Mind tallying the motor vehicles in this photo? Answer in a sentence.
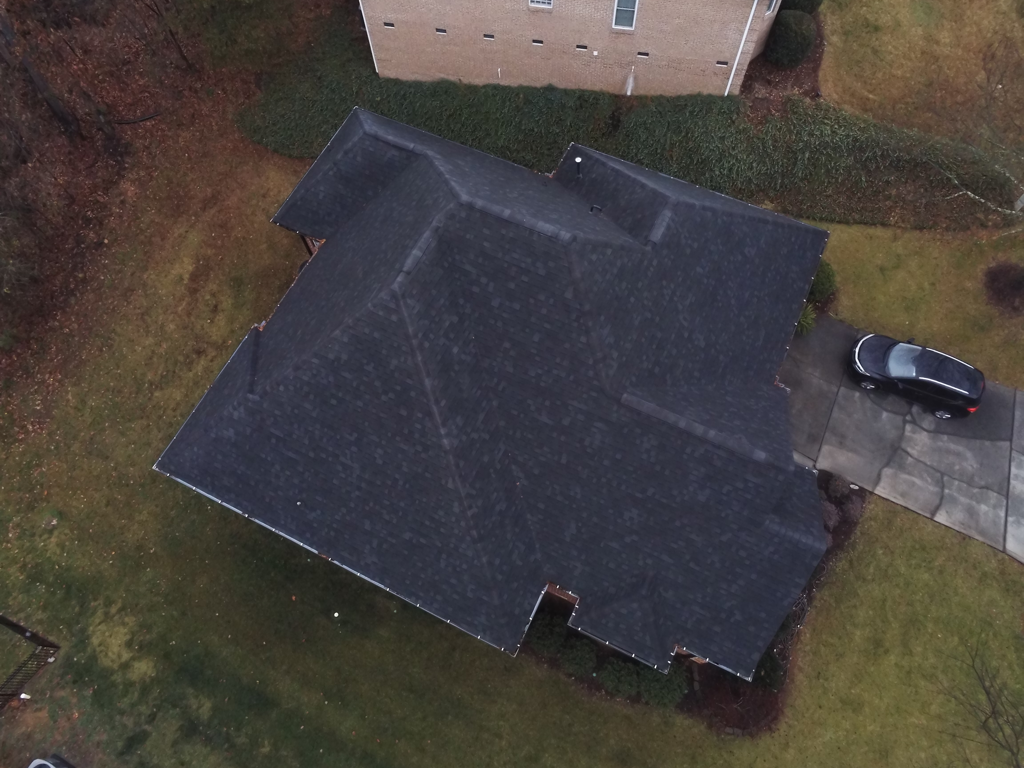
The photo contains exactly 1 motor vehicle.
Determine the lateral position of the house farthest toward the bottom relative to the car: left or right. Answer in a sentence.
Compared with the car, the house farthest toward the bottom is located further to the left.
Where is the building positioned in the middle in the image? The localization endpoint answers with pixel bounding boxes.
[152,107,831,679]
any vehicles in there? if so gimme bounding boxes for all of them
[845,334,990,421]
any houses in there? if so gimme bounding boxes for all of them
[152,107,831,679]
[357,0,782,97]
